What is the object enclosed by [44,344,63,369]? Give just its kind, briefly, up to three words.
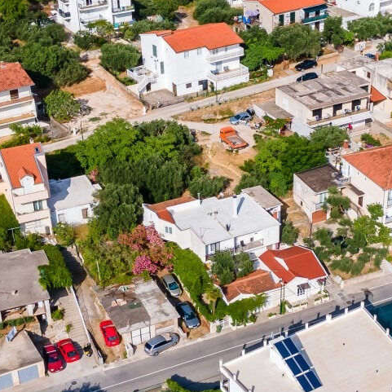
car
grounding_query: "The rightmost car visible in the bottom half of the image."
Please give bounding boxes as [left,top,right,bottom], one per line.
[179,303,198,327]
